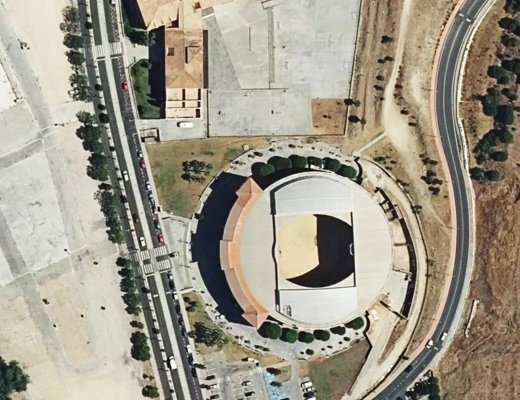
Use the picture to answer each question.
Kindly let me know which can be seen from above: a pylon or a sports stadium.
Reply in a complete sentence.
There is a sports stadium in the scene.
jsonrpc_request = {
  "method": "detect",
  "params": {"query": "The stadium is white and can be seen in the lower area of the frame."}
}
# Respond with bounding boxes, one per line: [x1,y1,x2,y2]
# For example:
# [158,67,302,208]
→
[219,171,394,330]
